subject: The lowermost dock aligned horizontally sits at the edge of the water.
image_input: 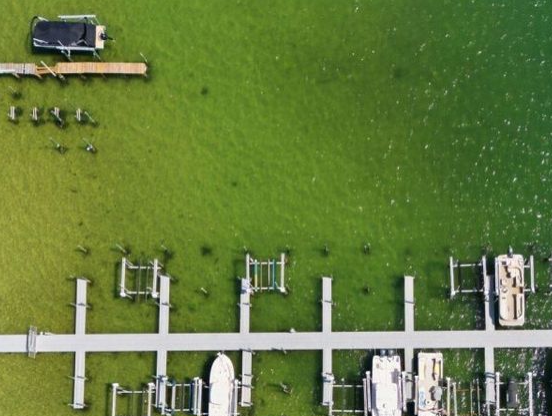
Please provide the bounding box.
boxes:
[0,328,552,354]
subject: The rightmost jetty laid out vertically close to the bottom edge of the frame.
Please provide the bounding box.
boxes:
[483,347,497,410]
